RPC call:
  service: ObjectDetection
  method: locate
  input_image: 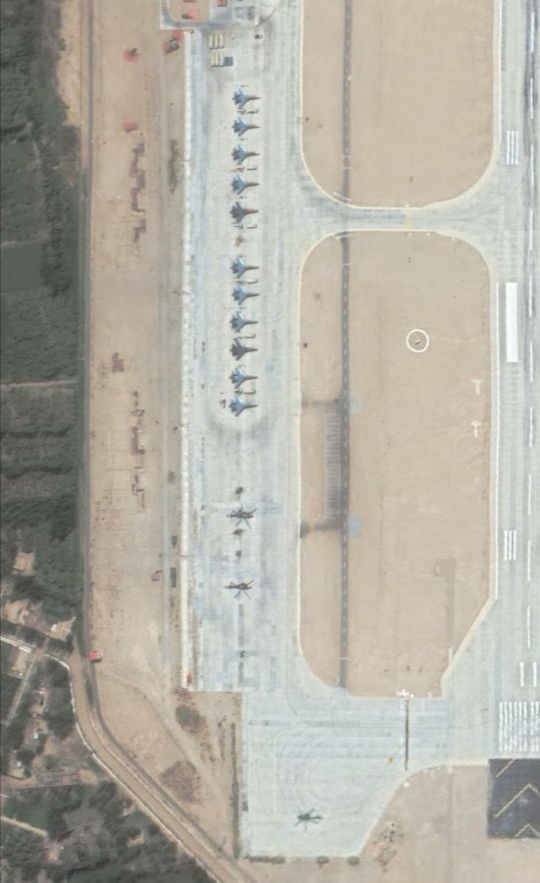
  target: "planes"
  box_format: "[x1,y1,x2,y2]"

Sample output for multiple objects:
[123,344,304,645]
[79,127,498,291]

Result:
[232,175,259,193]
[229,341,256,359]
[231,259,259,277]
[232,145,260,164]
[231,203,259,221]
[233,88,259,107]
[233,117,261,135]
[230,313,257,331]
[229,396,256,415]
[231,285,258,304]
[229,368,256,386]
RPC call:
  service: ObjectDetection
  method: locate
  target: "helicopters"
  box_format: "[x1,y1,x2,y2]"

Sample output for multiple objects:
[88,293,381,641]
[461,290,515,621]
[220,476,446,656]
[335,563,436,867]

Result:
[293,807,322,830]
[227,502,255,526]
[225,574,254,598]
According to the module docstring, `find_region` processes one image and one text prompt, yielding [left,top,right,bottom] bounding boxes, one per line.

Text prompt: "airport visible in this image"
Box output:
[161,0,540,856]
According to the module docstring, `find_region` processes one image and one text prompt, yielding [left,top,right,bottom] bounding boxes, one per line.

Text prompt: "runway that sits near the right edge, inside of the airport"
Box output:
[490,0,540,760]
